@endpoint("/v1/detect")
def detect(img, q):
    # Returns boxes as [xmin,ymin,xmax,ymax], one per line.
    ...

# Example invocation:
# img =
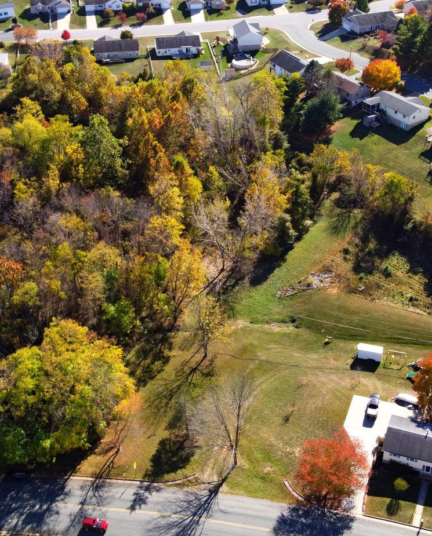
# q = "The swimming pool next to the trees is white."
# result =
[224,50,254,67]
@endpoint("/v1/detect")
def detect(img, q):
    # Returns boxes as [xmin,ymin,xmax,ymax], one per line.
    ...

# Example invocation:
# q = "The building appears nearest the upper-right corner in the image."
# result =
[392,0,432,21]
